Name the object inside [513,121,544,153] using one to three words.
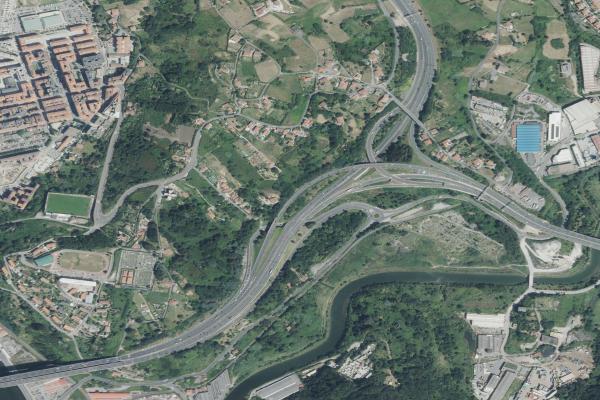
building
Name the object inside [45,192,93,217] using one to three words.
soccer field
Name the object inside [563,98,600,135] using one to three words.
building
